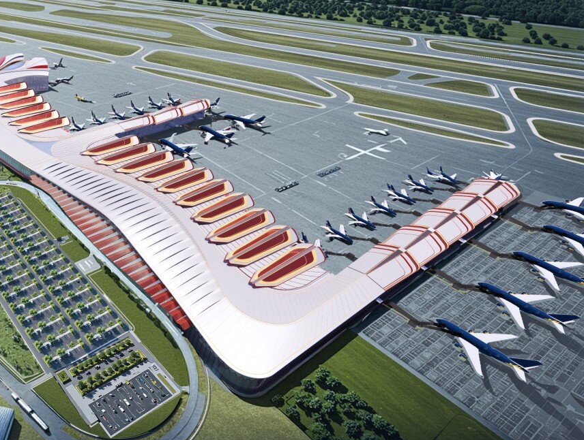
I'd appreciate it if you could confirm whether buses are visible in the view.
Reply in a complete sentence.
Yes, I can see a bus in this picture.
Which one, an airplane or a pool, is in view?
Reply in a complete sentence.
Of the two, only an airplane appears.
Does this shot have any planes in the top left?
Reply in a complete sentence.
Yes, a plane can be seen in the top left.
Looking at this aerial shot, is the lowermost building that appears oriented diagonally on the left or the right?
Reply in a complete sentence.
It is on the left.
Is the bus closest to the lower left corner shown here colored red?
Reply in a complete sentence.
No, from above the bus closest to the lower left corner looks white.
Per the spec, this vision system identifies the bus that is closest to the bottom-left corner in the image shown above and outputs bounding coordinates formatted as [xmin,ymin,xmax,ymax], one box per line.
[14,395,51,433]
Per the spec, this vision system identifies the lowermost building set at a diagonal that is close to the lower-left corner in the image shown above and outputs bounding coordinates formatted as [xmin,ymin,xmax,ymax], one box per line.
[66,385,99,428]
